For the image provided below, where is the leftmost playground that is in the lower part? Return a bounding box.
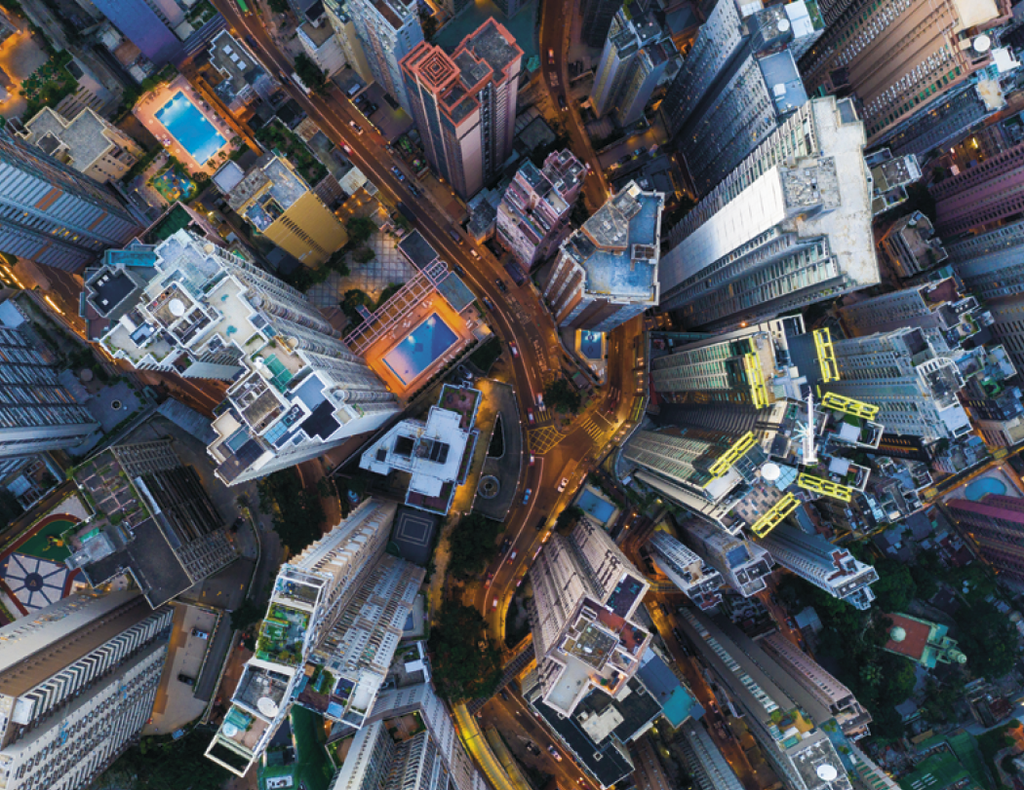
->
[0,491,90,622]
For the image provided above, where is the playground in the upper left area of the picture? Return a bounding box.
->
[152,164,194,203]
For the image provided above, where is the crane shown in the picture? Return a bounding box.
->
[794,379,818,463]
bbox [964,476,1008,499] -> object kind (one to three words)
swimming pool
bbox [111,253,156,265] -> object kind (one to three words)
swimming pool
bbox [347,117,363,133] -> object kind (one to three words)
vehicle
